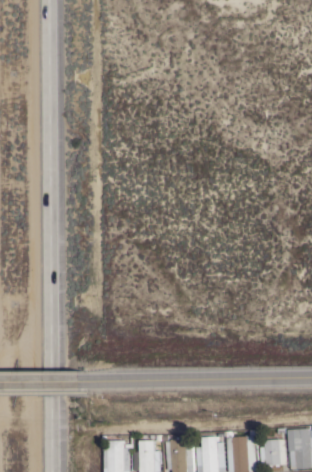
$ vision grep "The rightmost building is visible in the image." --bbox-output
[288,430,312,471]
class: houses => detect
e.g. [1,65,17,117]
[261,441,286,467]
[138,441,162,472]
[104,441,131,472]
[196,438,226,472]
[228,438,256,472]
[288,430,312,471]
[166,442,196,472]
